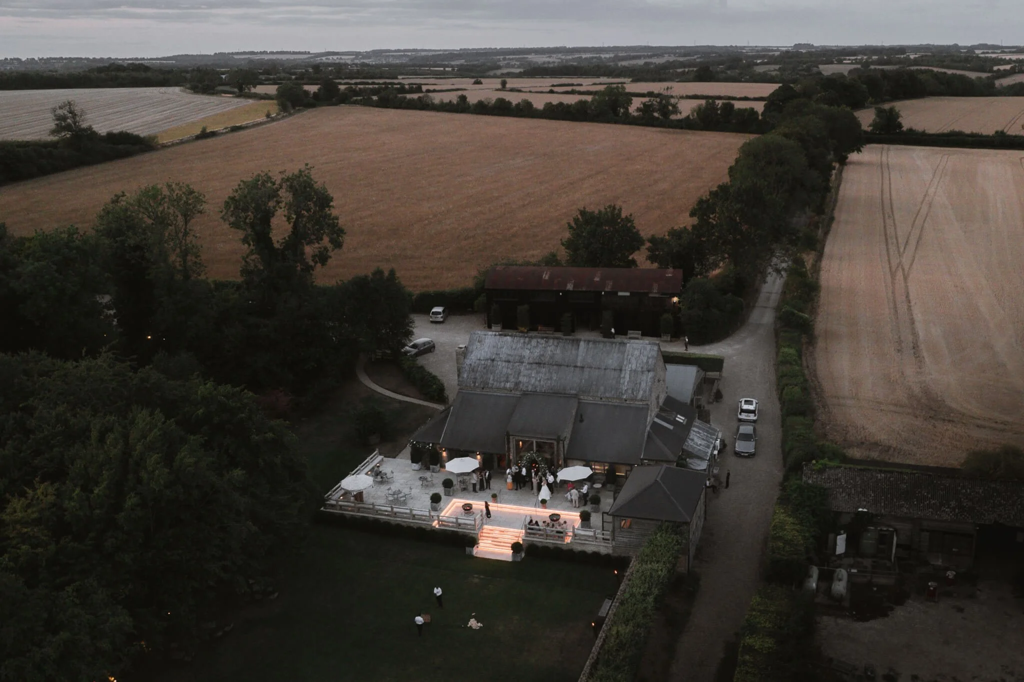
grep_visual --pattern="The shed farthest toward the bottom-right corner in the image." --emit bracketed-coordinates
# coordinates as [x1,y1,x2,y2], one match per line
[796,462,1024,550]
